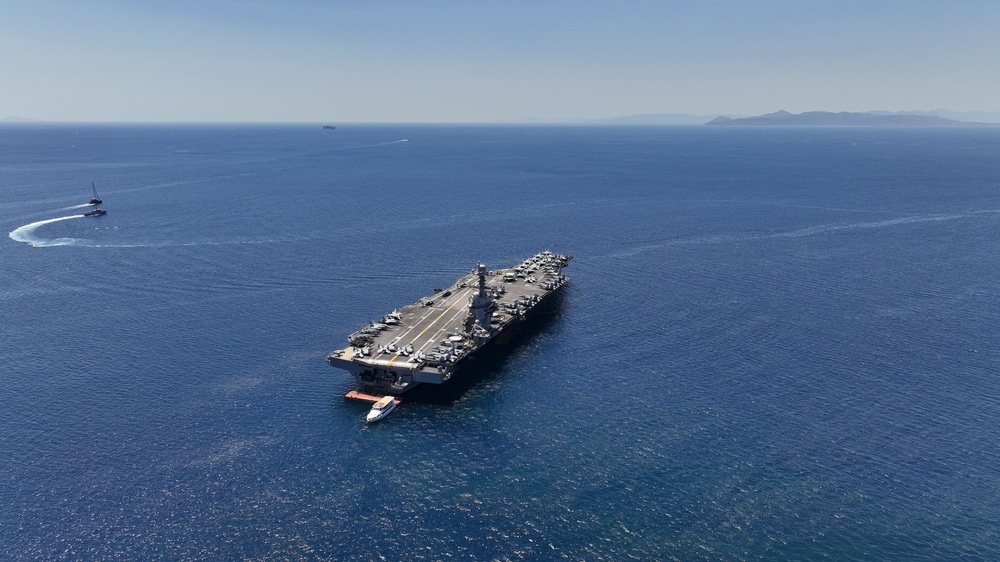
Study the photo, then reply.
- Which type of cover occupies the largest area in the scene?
water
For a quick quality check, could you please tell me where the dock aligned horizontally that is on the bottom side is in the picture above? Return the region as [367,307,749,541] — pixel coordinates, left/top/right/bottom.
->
[344,390,401,406]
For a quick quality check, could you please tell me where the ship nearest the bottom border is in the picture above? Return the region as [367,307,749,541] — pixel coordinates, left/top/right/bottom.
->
[366,395,396,422]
